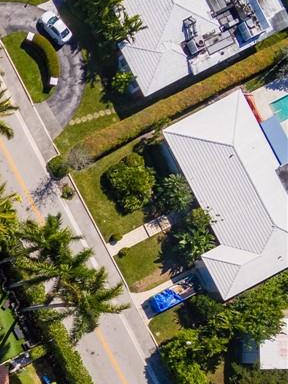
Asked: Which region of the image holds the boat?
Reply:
bottom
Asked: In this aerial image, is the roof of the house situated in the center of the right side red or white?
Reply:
white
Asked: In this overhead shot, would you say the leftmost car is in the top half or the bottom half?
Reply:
top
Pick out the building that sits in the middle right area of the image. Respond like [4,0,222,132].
[153,89,288,301]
